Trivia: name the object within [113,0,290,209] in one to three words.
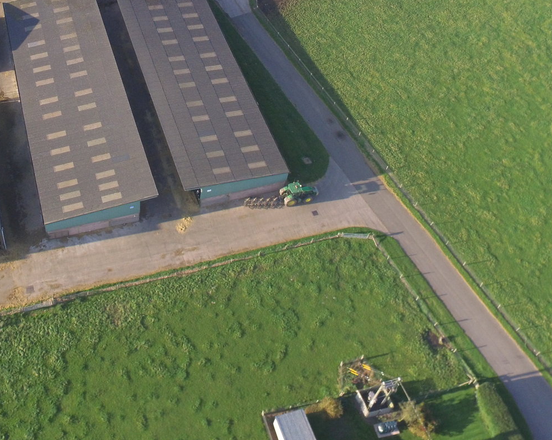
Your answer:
shed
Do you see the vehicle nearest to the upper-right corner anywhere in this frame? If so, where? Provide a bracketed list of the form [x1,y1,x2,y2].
[278,183,315,208]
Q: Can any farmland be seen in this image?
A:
Yes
